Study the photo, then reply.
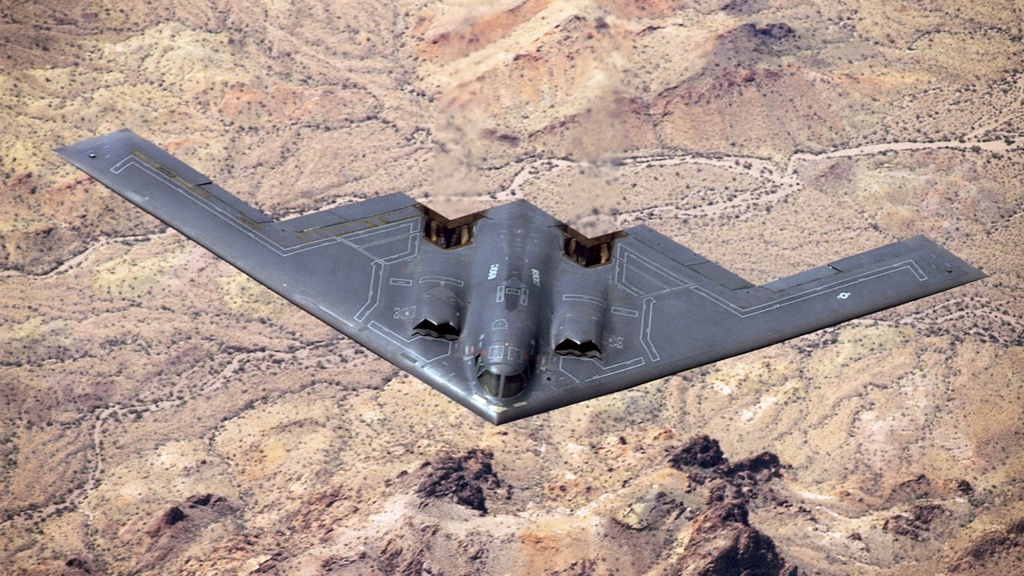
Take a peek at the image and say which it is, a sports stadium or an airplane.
airplane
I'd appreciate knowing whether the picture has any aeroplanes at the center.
Yes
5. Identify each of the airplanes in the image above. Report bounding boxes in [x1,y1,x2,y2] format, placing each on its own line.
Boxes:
[53,130,987,425]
